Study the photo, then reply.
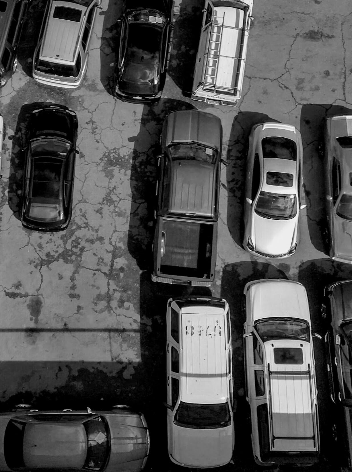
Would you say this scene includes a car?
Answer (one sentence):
Yes, there's a car down there.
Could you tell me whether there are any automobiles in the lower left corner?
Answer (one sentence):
Yes, I can see an automobile in the lower left corner.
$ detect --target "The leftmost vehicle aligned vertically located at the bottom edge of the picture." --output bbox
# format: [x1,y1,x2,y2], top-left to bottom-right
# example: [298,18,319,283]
[166,299,238,469]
